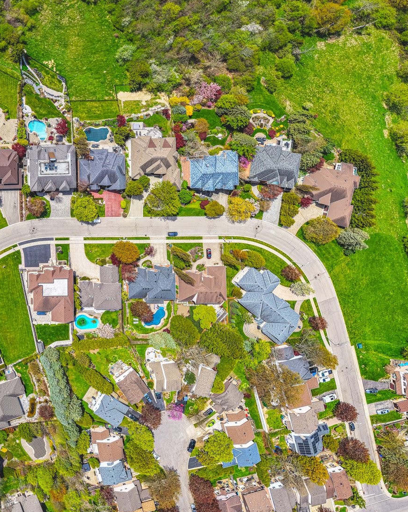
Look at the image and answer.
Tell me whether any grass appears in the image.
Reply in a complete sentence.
Yes, the picture does contain grass.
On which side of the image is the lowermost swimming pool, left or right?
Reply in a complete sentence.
The lowermost swimming pool is on the left side of the image.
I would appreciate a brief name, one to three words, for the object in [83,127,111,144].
swimming pool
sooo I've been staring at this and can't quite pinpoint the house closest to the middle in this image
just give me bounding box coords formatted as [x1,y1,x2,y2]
[176,265,226,304]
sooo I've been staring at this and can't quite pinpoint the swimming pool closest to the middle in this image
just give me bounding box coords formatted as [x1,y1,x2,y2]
[144,306,168,327]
